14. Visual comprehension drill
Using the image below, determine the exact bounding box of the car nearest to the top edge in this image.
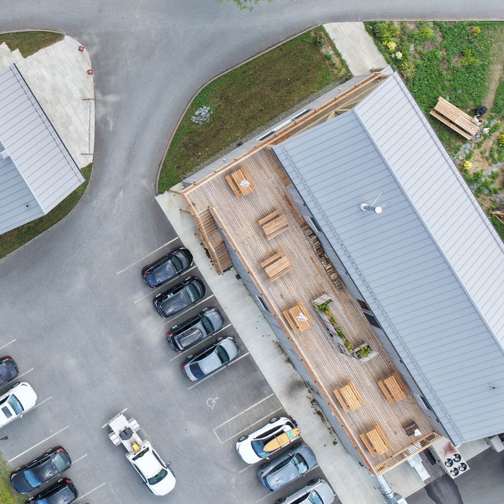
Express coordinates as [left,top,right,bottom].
[143,245,192,287]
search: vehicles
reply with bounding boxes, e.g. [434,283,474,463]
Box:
[154,275,205,318]
[237,417,299,463]
[106,411,179,498]
[260,443,318,492]
[276,479,335,504]
[181,335,238,382]
[143,245,192,287]
[0,356,18,387]
[167,306,223,353]
[0,380,38,430]
[26,477,77,504]
[12,448,70,493]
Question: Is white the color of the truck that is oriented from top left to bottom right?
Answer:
Yes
